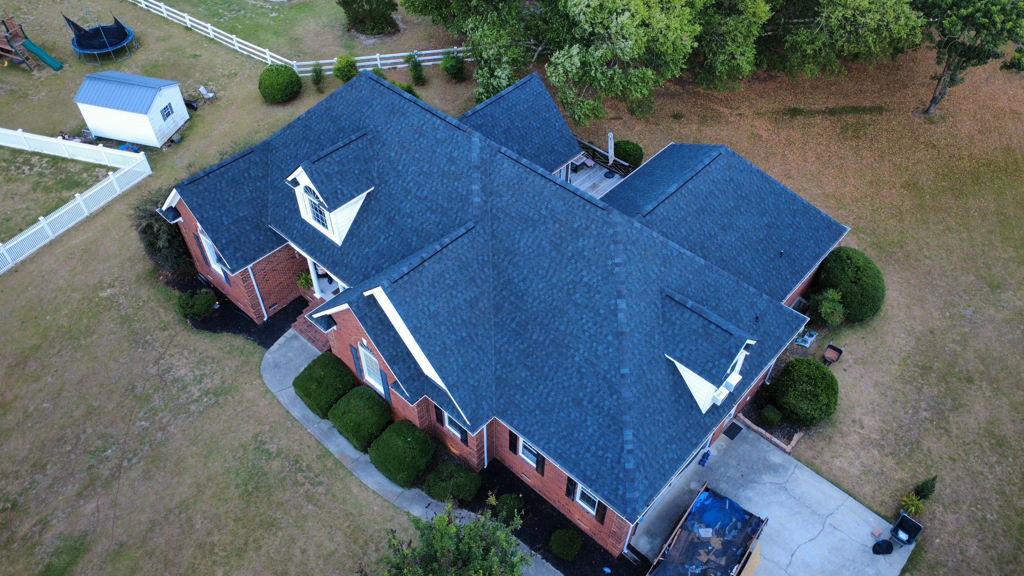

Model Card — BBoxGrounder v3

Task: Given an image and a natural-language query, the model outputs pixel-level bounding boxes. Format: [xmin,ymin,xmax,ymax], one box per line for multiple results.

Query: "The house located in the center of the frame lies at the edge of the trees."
[153,71,853,562]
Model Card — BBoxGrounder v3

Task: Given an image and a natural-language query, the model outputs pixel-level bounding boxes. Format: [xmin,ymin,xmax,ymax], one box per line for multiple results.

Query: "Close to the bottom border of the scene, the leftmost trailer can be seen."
[646,474,772,576]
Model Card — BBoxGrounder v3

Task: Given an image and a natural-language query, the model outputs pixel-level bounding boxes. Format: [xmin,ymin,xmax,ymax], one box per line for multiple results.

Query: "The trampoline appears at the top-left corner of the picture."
[59,9,139,69]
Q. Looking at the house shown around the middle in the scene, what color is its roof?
blue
